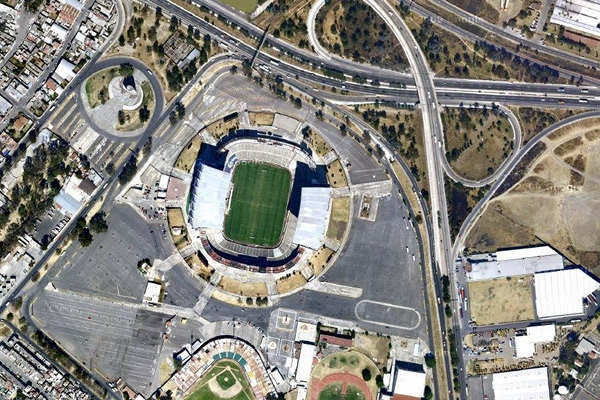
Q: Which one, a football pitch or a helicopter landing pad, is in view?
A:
football pitch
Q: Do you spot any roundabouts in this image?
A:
Yes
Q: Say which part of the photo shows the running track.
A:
bottom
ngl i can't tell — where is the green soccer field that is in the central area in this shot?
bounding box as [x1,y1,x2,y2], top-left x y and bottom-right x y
[223,158,294,251]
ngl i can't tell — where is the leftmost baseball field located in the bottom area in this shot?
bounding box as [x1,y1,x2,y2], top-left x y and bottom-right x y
[183,360,257,400]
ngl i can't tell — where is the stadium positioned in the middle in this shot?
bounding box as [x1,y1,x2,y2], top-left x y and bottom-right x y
[163,109,353,309]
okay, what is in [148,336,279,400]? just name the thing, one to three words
stadium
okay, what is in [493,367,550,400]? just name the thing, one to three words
building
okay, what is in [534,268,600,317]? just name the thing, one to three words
building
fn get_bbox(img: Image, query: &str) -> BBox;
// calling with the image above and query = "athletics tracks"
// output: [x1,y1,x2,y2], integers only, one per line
[309,347,384,400]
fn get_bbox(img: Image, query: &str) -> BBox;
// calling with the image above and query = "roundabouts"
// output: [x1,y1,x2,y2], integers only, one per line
[77,54,165,141]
